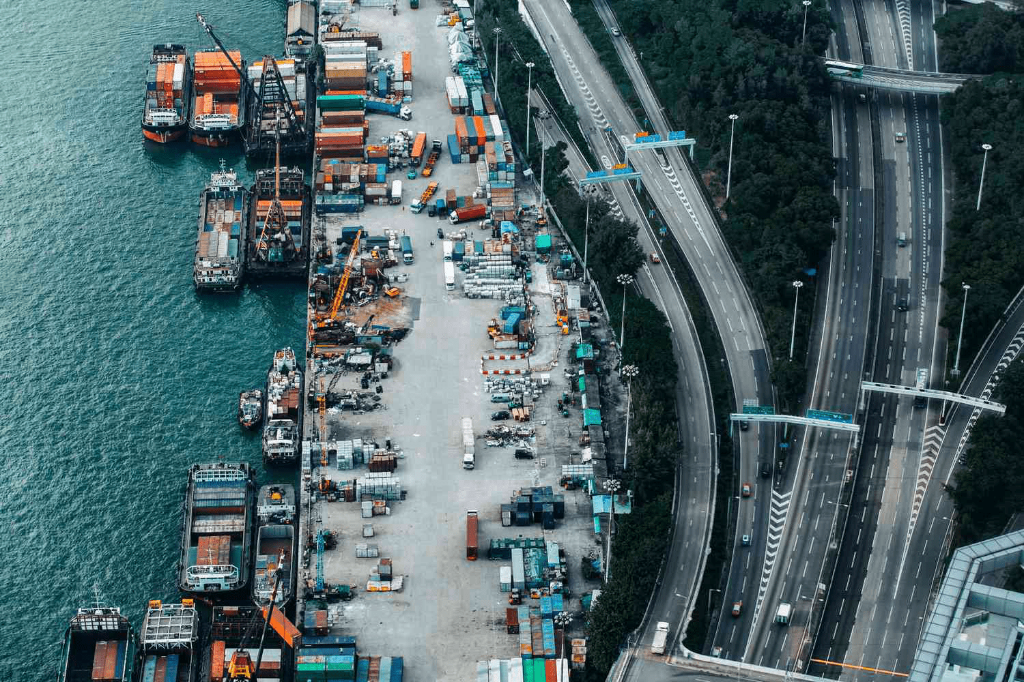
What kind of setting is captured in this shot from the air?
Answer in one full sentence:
This looks like a port.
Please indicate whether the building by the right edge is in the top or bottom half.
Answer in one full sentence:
The bottom half of the photo is where the building by the right edge is.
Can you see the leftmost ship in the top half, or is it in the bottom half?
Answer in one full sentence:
The bottom half of the photo is where the leftmost ship is.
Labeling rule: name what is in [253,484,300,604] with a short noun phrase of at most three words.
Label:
ship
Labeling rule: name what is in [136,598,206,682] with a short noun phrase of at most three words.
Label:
ship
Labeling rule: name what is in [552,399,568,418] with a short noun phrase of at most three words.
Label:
work vehicle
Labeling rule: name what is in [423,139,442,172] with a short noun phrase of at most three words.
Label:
vehicle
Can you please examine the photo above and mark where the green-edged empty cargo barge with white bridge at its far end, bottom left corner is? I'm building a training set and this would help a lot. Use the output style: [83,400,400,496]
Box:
[47,569,144,682]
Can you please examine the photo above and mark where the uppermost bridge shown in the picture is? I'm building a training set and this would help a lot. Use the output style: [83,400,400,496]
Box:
[806,51,1023,109]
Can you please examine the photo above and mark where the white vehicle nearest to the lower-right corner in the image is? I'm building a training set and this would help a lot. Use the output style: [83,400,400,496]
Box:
[777,597,793,623]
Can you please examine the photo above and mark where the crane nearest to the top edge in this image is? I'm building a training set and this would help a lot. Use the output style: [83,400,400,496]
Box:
[314,229,363,328]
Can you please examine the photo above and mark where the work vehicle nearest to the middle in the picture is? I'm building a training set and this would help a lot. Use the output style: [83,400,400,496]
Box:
[482,319,502,336]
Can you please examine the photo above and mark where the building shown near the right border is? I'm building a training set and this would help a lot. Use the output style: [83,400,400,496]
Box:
[906,528,1024,682]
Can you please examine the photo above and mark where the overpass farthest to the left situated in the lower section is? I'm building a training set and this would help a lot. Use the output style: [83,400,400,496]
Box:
[607,639,864,682]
